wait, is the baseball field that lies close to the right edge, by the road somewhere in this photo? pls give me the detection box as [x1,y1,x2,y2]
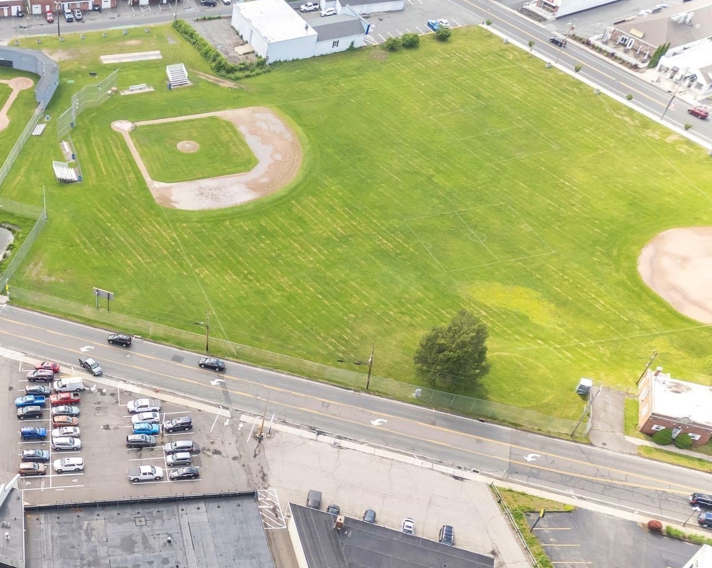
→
[521,94,712,349]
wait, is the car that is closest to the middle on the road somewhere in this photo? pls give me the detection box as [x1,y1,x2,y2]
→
[198,357,226,373]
